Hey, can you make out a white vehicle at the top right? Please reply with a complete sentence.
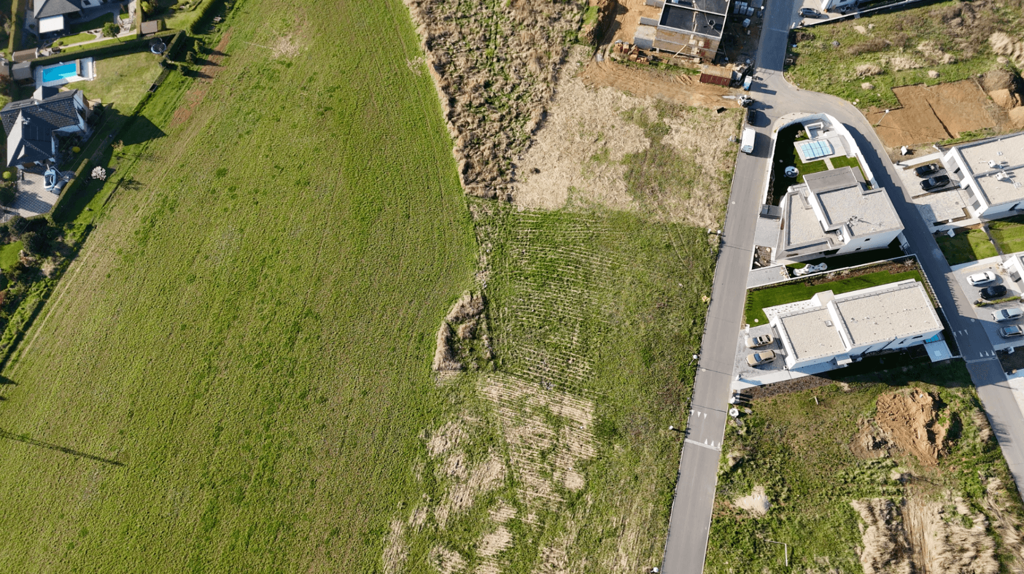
Yes, at the top right there is a white vehicle.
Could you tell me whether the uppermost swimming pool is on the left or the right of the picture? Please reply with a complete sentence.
The uppermost swimming pool sits on the left side.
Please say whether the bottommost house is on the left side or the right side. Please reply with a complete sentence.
The bottommost house is on the right side of the image.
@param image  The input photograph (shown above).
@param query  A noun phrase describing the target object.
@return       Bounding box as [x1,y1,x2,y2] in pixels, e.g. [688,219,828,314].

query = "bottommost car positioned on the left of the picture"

[46,174,69,198]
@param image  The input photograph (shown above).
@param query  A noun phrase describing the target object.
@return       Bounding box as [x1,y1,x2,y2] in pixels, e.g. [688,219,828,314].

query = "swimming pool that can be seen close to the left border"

[41,62,76,83]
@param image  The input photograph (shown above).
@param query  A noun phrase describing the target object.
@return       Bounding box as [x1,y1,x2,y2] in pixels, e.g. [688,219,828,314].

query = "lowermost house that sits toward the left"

[0,86,86,175]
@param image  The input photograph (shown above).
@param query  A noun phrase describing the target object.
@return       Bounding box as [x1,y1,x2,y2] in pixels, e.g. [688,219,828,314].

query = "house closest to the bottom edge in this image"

[771,282,944,369]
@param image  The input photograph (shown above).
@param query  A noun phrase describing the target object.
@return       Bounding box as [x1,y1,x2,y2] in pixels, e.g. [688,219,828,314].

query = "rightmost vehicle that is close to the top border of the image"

[797,4,823,19]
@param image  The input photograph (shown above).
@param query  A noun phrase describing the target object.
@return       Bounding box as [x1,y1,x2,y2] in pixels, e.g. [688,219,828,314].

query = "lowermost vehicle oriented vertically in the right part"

[741,124,757,154]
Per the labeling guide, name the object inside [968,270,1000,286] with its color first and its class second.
white car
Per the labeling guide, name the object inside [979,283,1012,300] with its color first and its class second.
black car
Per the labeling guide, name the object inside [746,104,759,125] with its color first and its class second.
black vehicle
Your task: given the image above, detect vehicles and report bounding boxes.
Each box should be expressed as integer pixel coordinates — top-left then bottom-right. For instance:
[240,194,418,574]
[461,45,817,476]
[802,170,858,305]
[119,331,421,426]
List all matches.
[968,270,1000,286]
[994,305,1024,322]
[741,124,757,154]
[921,174,952,190]
[797,4,823,19]
[746,349,779,367]
[745,332,777,349]
[746,104,759,125]
[914,161,944,178]
[979,283,1012,300]
[46,174,69,198]
[733,91,757,108]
